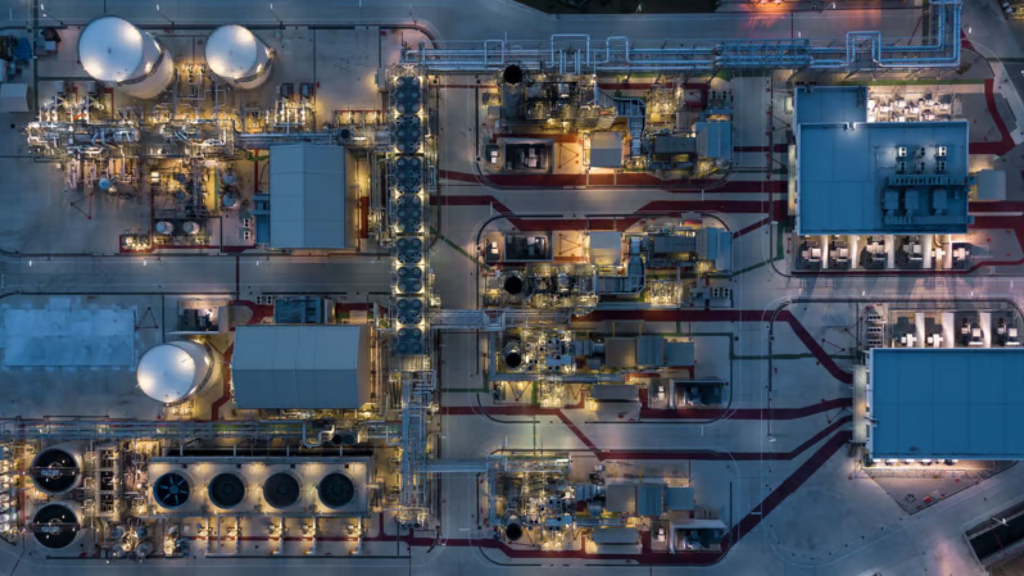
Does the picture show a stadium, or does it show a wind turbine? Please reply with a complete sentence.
I can see a wind turbine in this picture.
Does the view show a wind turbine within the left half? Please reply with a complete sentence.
No, no wind turbine is visible within the left half.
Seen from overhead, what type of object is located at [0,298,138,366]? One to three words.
shed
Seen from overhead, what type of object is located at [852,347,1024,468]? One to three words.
building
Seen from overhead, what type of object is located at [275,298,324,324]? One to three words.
house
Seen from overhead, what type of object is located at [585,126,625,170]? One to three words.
building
